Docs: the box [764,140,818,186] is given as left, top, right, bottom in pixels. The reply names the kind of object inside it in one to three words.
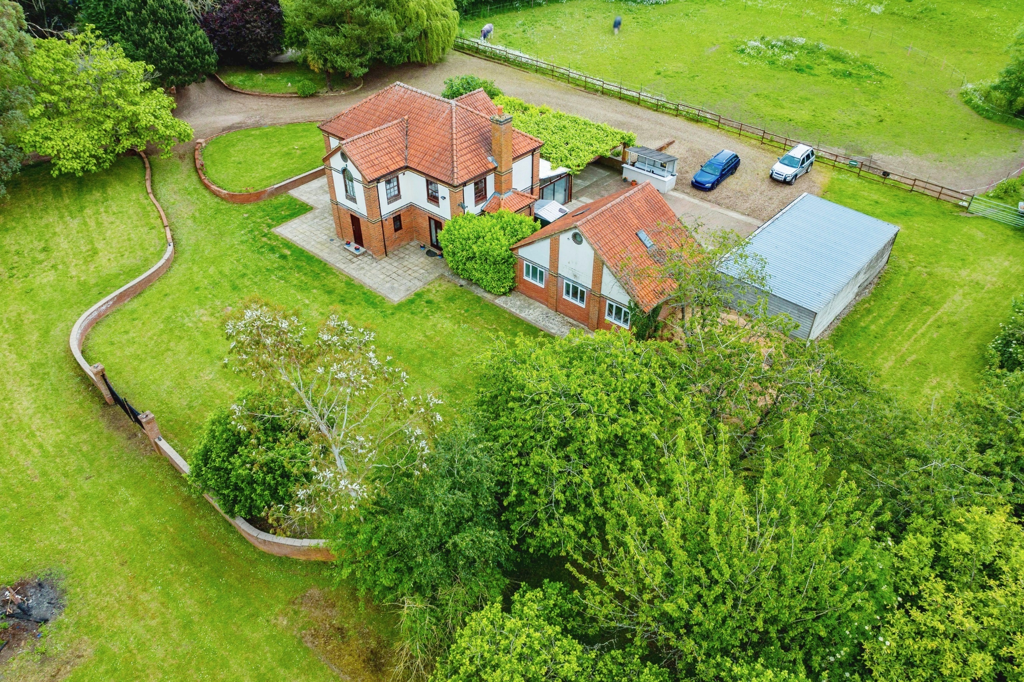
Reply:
car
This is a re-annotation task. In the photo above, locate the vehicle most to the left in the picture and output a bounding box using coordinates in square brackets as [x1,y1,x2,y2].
[689,149,744,189]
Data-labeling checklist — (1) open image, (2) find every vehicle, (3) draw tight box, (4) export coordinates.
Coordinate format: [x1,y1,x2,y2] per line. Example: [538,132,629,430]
[764,140,818,186]
[689,149,744,189]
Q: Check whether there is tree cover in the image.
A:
Yes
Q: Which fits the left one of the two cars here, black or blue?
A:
blue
